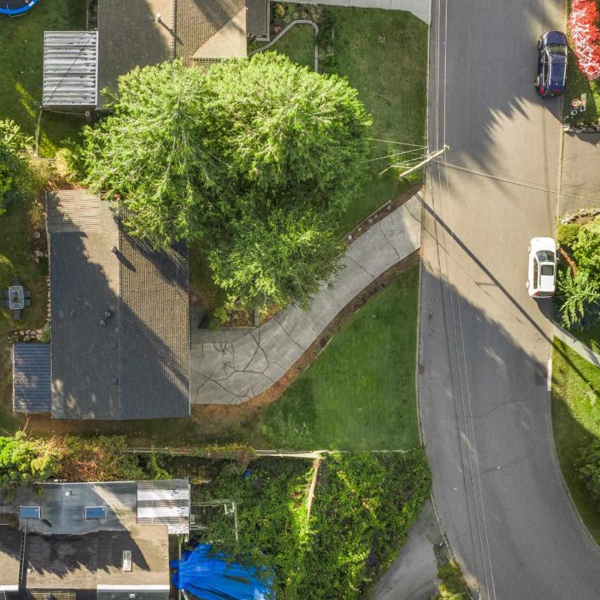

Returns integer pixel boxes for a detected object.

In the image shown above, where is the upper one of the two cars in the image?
[535,31,571,97]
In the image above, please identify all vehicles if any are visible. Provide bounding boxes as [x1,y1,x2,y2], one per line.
[535,31,571,97]
[526,237,561,299]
